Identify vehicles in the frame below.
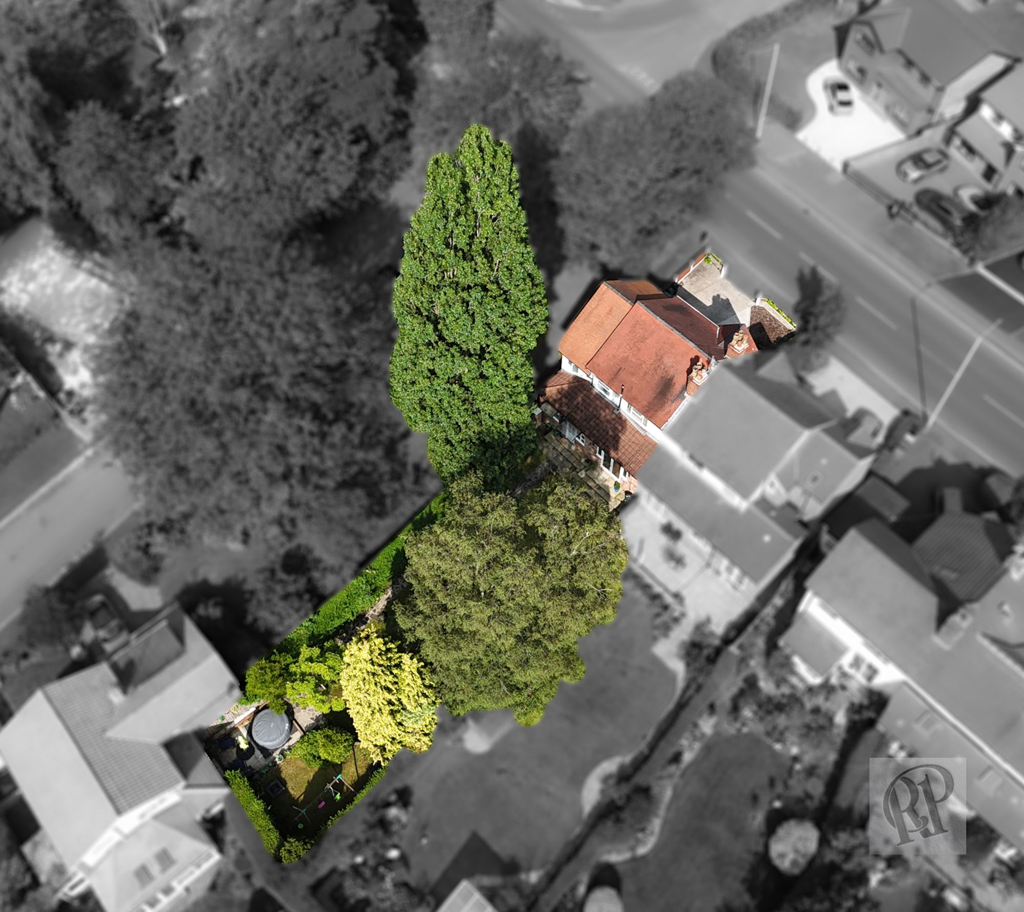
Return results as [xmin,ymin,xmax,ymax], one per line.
[896,143,953,184]
[822,78,856,117]
[847,400,891,448]
[72,582,140,652]
[908,186,971,234]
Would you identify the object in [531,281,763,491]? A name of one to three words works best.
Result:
house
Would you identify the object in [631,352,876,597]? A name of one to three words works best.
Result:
house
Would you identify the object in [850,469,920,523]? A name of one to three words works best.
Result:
shed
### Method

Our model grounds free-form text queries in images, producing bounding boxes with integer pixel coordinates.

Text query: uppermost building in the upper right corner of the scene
[835,0,1022,134]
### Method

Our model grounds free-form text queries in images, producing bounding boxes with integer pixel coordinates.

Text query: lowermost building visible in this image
[428,877,491,912]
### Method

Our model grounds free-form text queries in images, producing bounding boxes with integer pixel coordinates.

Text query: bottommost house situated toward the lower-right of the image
[770,511,1024,885]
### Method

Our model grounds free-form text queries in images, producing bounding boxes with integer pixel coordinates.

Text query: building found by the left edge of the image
[0,605,247,912]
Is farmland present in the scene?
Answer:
No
